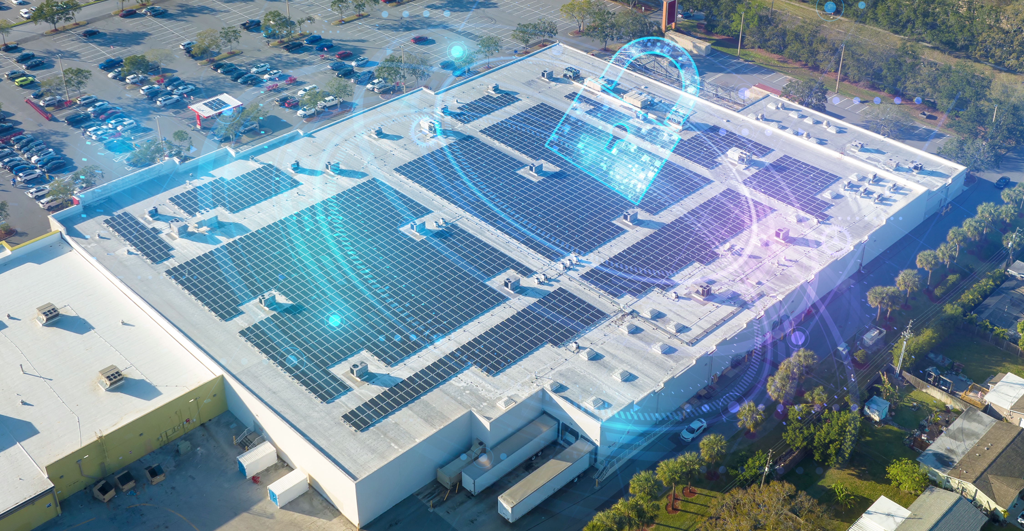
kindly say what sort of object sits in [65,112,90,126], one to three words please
car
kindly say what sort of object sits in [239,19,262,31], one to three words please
vehicle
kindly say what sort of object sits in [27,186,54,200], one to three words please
car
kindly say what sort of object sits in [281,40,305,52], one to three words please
vehicle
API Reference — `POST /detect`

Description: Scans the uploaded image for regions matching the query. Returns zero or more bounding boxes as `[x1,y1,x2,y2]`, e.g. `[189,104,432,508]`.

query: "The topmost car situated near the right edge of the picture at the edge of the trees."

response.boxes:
[994,177,1010,191]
